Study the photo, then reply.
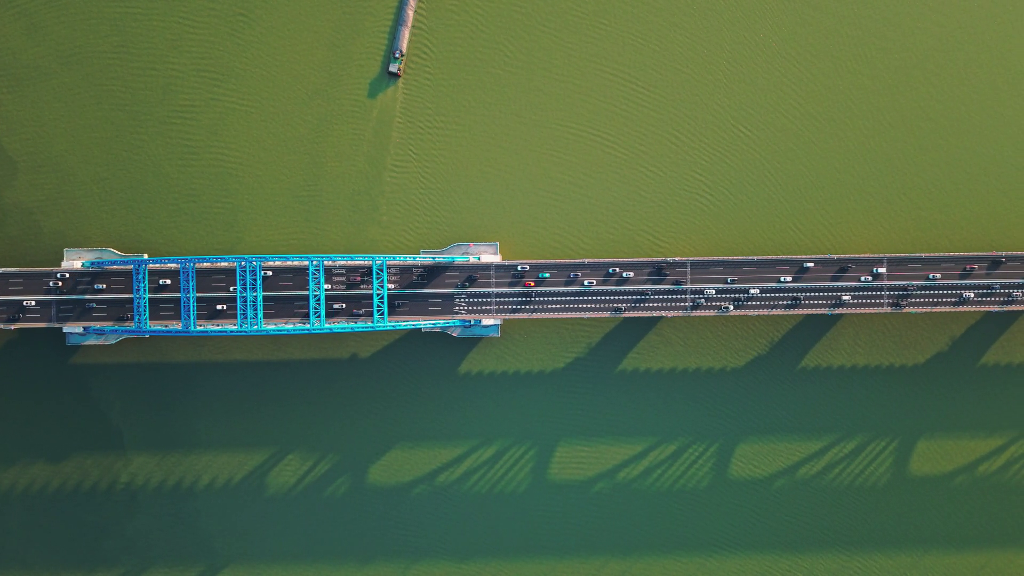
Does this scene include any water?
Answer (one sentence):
Yes, water shows up in the scene.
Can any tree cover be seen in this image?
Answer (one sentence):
No, the scene doesn't show any tree cover.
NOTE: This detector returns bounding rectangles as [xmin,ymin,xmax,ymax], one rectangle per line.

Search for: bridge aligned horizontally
[0,242,1024,344]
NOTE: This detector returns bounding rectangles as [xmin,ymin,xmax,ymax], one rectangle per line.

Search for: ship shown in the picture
[387,0,418,77]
